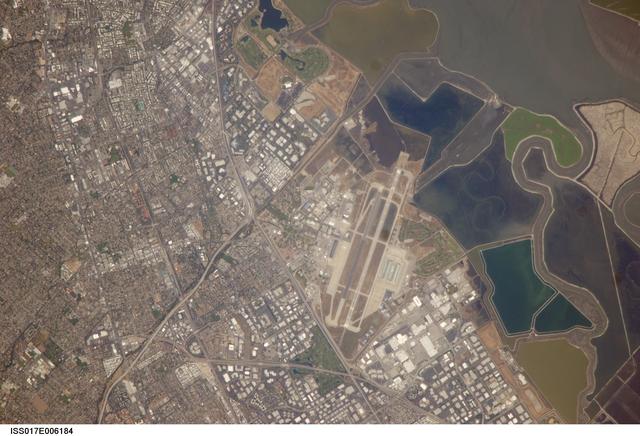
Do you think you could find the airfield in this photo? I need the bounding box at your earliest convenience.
[318,151,416,334]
